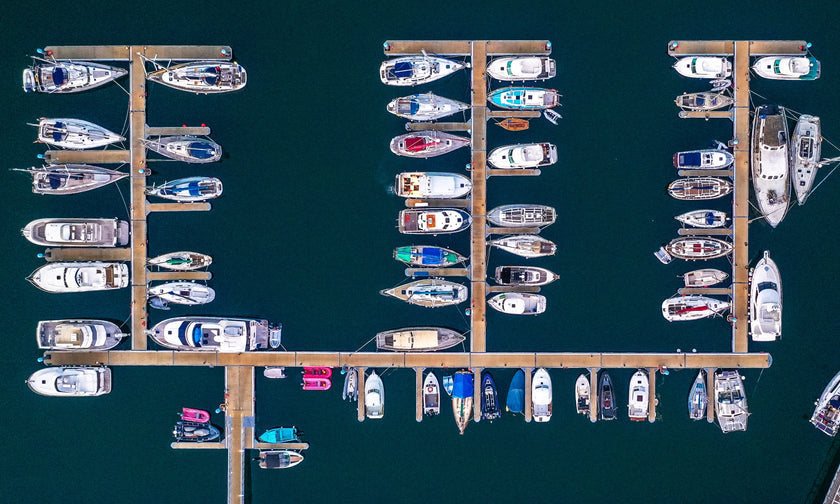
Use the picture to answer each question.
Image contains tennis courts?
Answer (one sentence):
No, there appears to be no tennis court in this shot.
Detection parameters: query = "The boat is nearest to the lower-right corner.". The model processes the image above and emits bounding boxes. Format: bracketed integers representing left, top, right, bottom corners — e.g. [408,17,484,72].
[809,369,840,437]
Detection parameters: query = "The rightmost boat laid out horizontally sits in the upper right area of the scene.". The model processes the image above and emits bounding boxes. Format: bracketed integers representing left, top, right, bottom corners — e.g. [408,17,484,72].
[750,54,820,83]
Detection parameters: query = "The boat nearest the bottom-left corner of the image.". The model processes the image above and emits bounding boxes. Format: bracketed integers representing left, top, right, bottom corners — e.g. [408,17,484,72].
[20,364,116,396]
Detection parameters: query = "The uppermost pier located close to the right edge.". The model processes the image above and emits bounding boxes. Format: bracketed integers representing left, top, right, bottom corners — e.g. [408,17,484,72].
[667,40,809,57]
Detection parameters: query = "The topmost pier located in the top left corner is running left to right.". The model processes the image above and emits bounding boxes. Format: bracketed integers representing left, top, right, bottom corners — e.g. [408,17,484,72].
[46,45,232,62]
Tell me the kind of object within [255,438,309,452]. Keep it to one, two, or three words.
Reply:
pier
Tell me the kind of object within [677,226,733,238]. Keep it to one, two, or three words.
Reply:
pier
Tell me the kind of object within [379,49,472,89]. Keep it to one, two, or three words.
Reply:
boat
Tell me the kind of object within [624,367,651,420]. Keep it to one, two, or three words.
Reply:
boat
